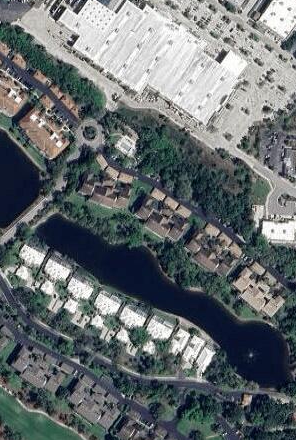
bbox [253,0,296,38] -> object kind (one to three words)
building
